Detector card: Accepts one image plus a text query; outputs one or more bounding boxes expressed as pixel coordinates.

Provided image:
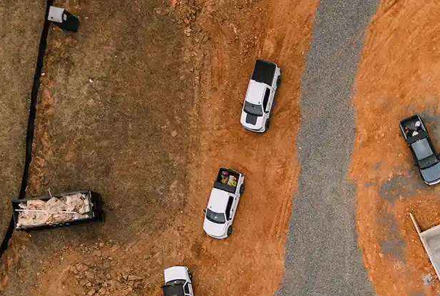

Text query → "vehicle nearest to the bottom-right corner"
[397,113,440,186]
